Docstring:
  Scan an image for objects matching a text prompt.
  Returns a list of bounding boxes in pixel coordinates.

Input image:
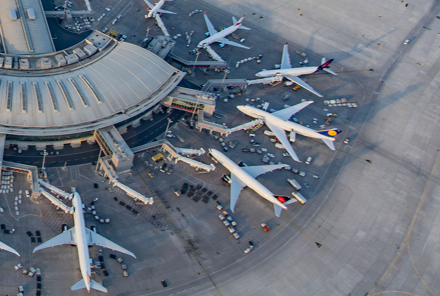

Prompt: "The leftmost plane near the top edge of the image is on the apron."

[145,0,176,18]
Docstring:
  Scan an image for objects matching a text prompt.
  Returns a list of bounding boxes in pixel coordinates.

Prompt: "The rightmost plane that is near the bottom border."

[32,190,131,286]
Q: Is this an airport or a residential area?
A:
airport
